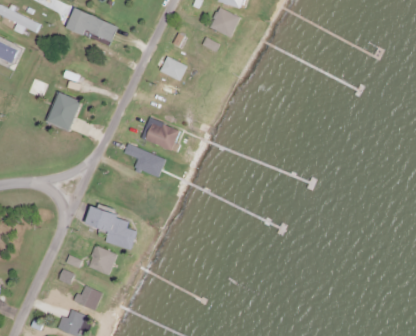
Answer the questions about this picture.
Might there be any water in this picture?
Yes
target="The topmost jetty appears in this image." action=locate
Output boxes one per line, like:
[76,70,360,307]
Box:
[280,6,386,60]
